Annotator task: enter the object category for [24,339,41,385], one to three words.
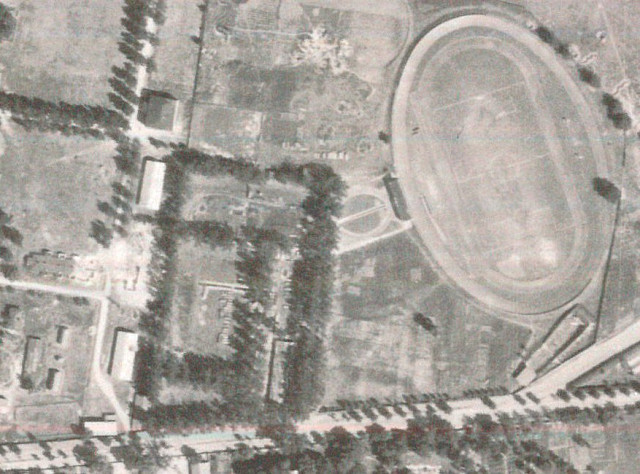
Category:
barn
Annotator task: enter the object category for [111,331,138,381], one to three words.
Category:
building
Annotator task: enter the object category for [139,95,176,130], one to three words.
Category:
house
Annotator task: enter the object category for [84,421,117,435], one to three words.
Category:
shed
